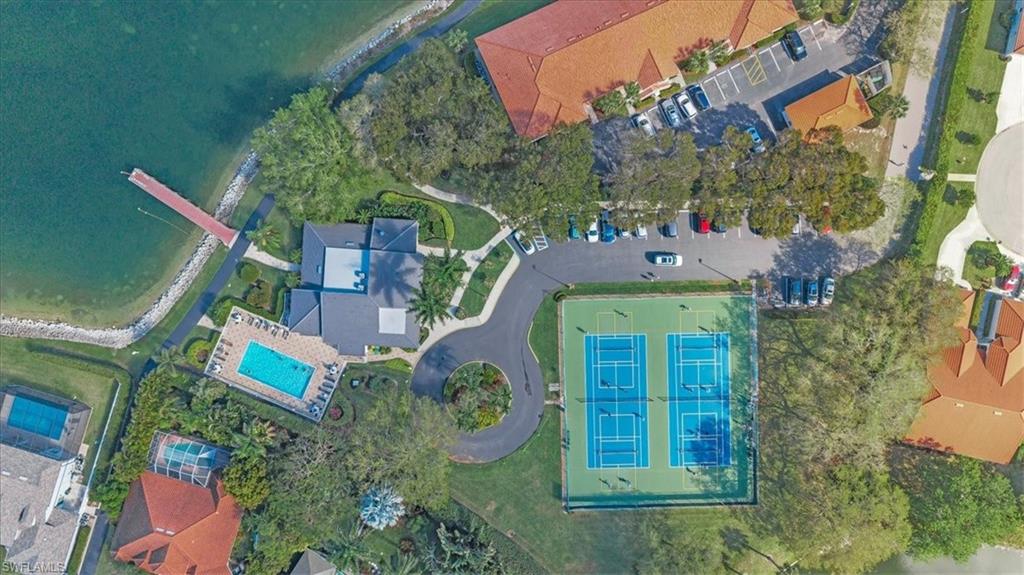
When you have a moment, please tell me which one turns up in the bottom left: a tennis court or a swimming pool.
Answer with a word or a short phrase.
swimming pool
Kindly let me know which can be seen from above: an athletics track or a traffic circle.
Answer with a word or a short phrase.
traffic circle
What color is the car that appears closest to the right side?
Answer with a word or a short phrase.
red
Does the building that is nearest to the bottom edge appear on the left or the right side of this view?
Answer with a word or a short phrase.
left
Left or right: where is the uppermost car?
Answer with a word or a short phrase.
right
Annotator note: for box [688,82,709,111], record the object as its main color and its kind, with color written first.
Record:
blue car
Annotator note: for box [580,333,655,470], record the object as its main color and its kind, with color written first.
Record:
blue tennis court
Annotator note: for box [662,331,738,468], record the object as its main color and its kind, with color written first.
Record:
blue tennis court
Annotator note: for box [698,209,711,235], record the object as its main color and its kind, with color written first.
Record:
red vehicle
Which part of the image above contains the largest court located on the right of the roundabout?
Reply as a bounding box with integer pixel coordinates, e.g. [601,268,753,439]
[563,296,753,506]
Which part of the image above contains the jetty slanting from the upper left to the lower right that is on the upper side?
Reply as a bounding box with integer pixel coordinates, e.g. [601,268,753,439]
[120,168,238,247]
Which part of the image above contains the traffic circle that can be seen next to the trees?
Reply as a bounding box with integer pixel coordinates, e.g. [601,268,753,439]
[443,361,512,430]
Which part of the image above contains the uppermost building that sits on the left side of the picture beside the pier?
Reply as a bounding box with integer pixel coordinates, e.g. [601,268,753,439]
[279,218,423,359]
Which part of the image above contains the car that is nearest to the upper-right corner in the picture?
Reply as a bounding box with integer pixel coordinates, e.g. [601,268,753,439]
[784,30,805,60]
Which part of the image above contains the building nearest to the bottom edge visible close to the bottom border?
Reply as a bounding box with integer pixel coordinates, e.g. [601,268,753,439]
[288,544,339,575]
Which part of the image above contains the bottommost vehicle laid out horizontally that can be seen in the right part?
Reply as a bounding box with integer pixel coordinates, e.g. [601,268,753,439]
[653,253,681,266]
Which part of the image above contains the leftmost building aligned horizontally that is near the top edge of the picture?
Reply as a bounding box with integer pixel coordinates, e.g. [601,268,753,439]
[474,0,799,139]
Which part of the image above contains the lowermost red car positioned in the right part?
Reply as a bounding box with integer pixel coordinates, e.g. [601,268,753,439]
[1000,266,1020,293]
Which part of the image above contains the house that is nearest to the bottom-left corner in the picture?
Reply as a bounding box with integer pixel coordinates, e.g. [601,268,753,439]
[0,441,86,575]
